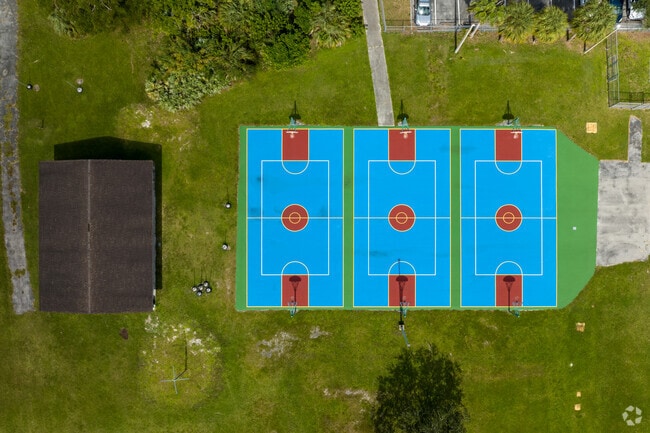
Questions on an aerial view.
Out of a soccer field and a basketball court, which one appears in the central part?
basketball court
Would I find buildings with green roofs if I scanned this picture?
No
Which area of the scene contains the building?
left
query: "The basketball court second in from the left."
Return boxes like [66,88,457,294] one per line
[354,128,451,307]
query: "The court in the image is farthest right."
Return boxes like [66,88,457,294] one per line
[460,128,557,307]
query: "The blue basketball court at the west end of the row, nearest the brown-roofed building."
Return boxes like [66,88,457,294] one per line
[247,128,344,307]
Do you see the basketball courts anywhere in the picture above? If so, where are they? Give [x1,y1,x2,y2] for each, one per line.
[354,128,451,307]
[247,128,344,307]
[460,128,557,307]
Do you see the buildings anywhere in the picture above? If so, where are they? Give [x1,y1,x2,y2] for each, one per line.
[39,159,158,314]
